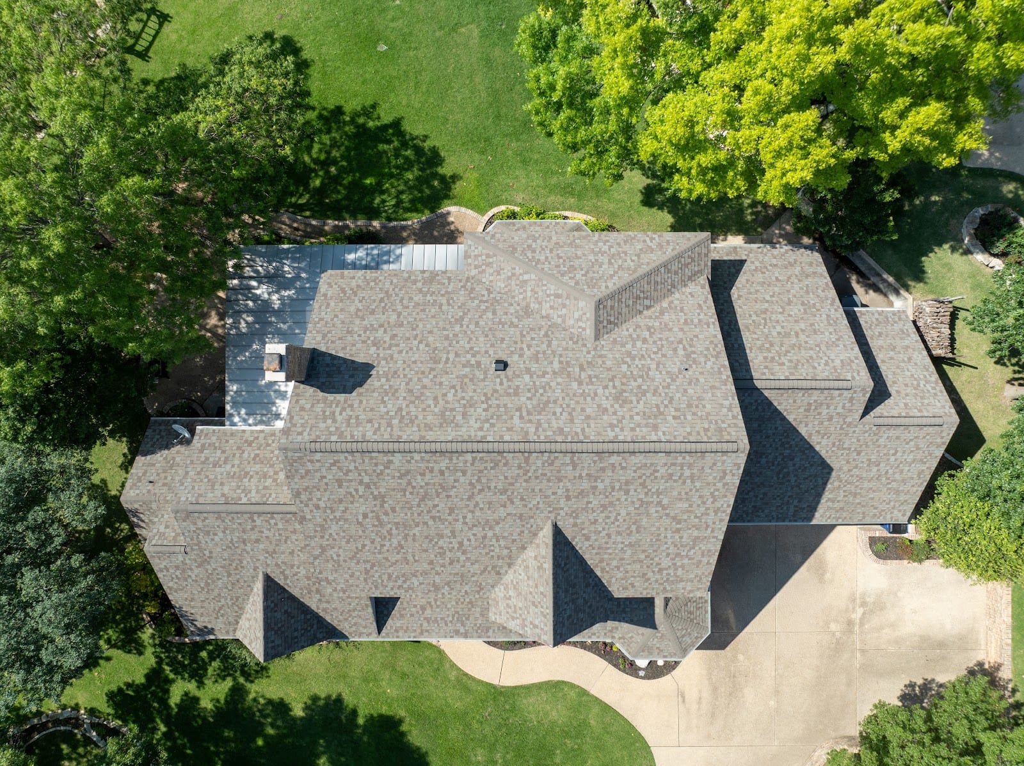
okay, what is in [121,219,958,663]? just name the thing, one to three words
house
